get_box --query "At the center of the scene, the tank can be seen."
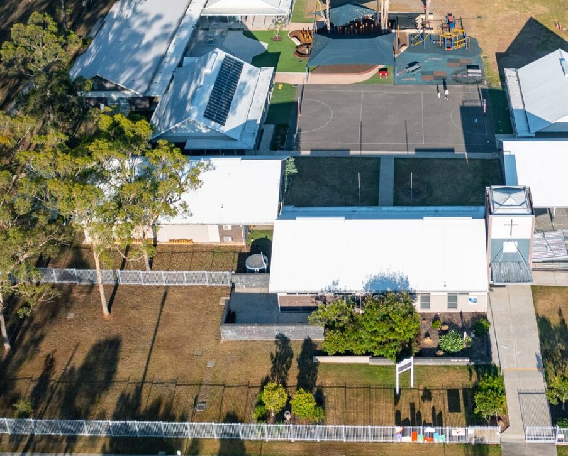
[243,247,270,276]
